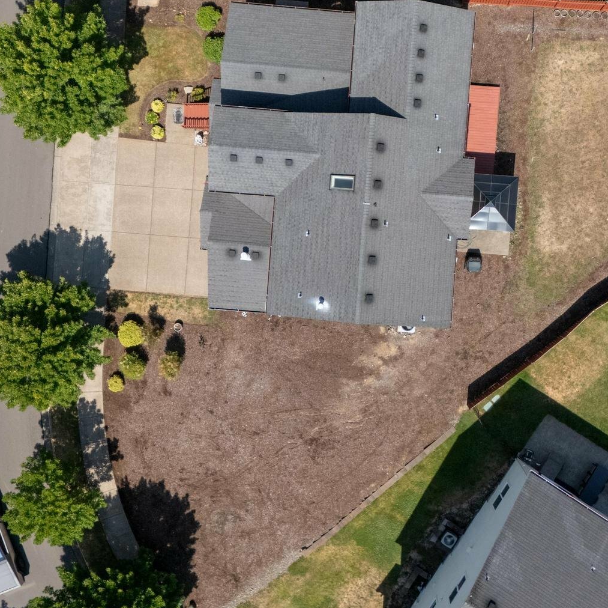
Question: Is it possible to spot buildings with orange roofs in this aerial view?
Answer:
No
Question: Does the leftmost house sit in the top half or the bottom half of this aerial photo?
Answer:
top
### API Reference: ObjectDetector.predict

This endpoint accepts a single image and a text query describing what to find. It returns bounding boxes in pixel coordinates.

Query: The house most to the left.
[199,1,480,330]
